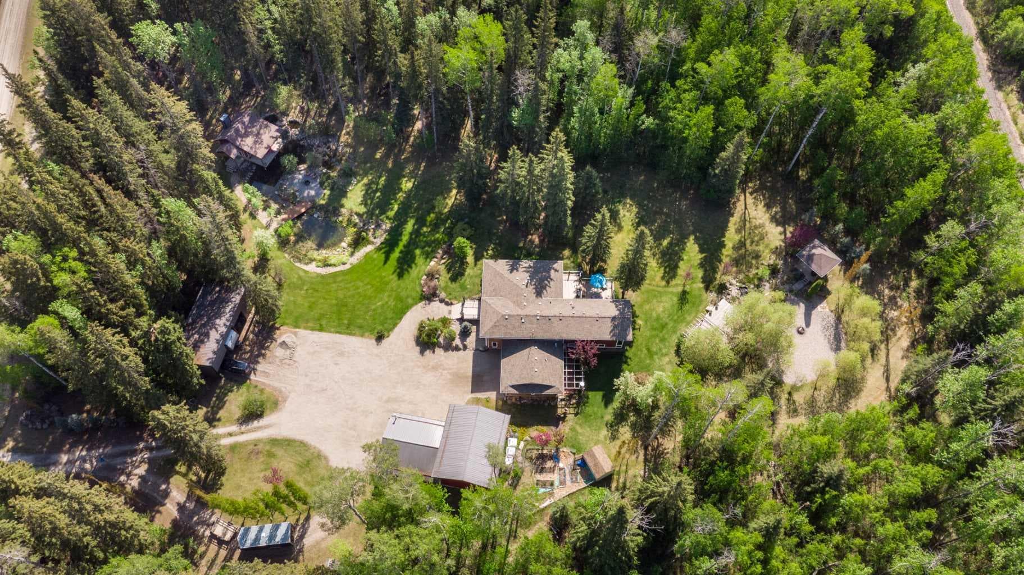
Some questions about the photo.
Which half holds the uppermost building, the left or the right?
left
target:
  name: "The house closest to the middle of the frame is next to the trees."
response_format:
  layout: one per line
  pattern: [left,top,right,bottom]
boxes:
[479,259,632,397]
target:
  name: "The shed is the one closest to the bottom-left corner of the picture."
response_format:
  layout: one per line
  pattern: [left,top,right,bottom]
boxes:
[237,522,293,549]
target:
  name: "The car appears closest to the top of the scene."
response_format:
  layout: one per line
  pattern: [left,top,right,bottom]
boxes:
[220,357,255,375]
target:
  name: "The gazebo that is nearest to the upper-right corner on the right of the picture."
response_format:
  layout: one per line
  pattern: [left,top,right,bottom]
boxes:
[795,239,842,280]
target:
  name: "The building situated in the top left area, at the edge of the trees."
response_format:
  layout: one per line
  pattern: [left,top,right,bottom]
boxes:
[212,108,294,180]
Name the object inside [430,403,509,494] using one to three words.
building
